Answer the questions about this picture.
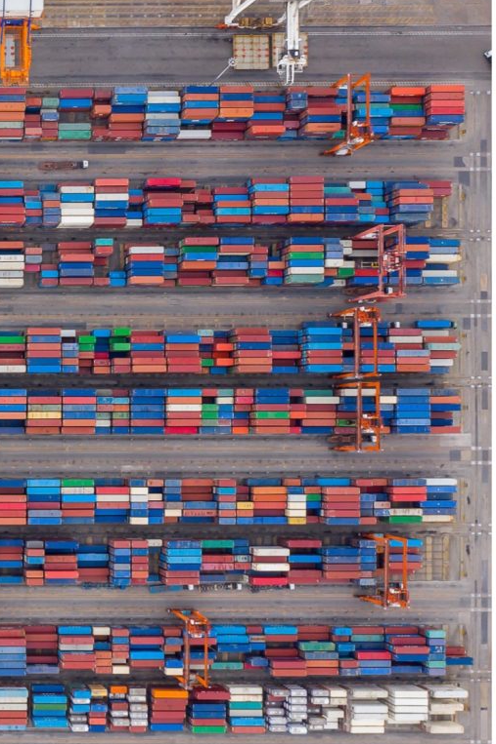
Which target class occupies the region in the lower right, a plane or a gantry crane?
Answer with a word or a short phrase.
gantry crane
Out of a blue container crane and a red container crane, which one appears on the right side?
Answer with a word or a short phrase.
red container crane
